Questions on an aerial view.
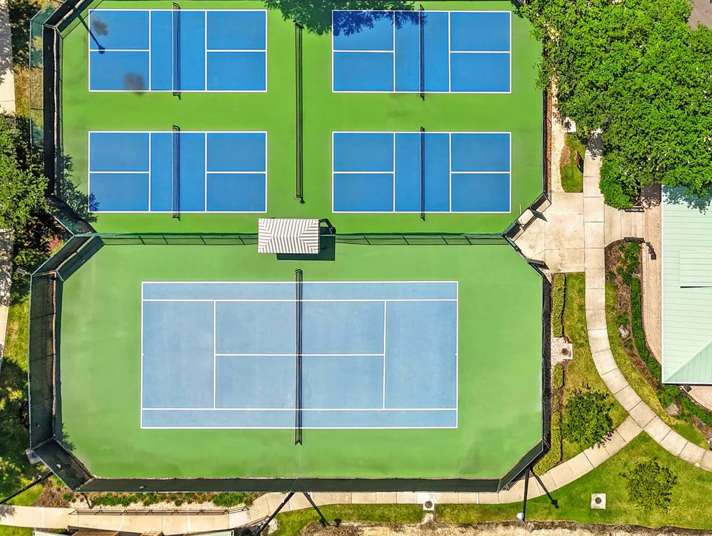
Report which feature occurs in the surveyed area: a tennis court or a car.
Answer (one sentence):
There is a tennis court in the scene.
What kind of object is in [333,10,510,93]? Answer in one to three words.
sports court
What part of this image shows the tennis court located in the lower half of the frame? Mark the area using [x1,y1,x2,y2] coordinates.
[58,239,543,476]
